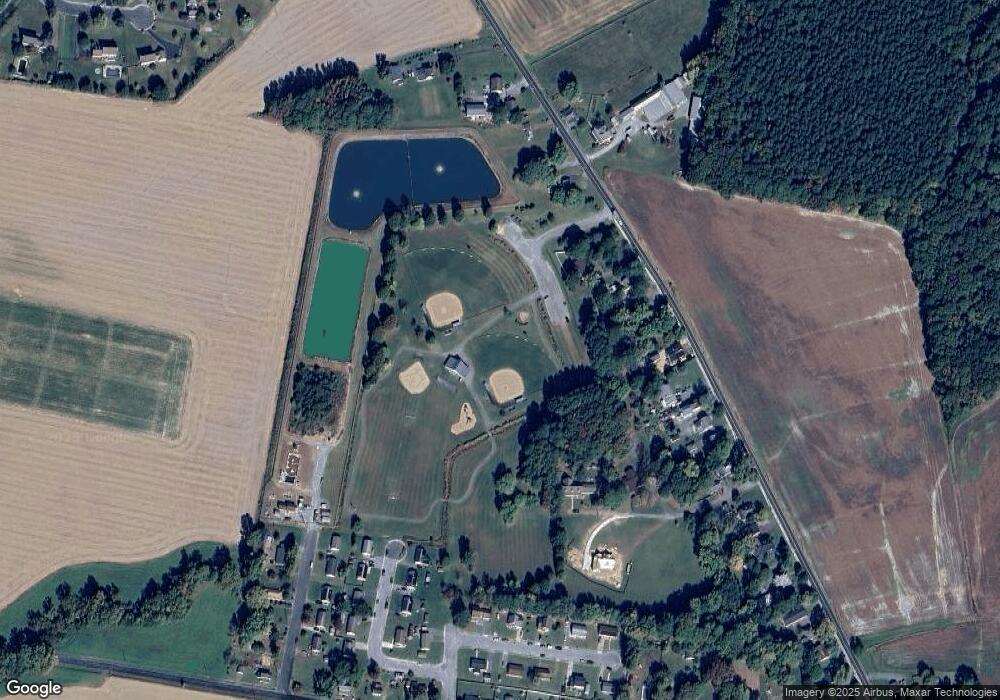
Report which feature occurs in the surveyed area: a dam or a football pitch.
football pitch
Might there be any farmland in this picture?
Yes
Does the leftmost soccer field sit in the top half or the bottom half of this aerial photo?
bottom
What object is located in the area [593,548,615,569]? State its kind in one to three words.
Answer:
house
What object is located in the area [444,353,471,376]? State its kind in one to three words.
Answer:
building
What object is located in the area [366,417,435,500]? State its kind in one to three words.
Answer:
soccer field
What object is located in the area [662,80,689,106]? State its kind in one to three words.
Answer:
barn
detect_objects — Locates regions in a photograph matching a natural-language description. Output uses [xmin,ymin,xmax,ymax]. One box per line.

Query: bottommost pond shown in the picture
[304,239,367,361]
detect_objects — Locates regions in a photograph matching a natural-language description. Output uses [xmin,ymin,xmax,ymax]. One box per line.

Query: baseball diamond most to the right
[472,333,555,405]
